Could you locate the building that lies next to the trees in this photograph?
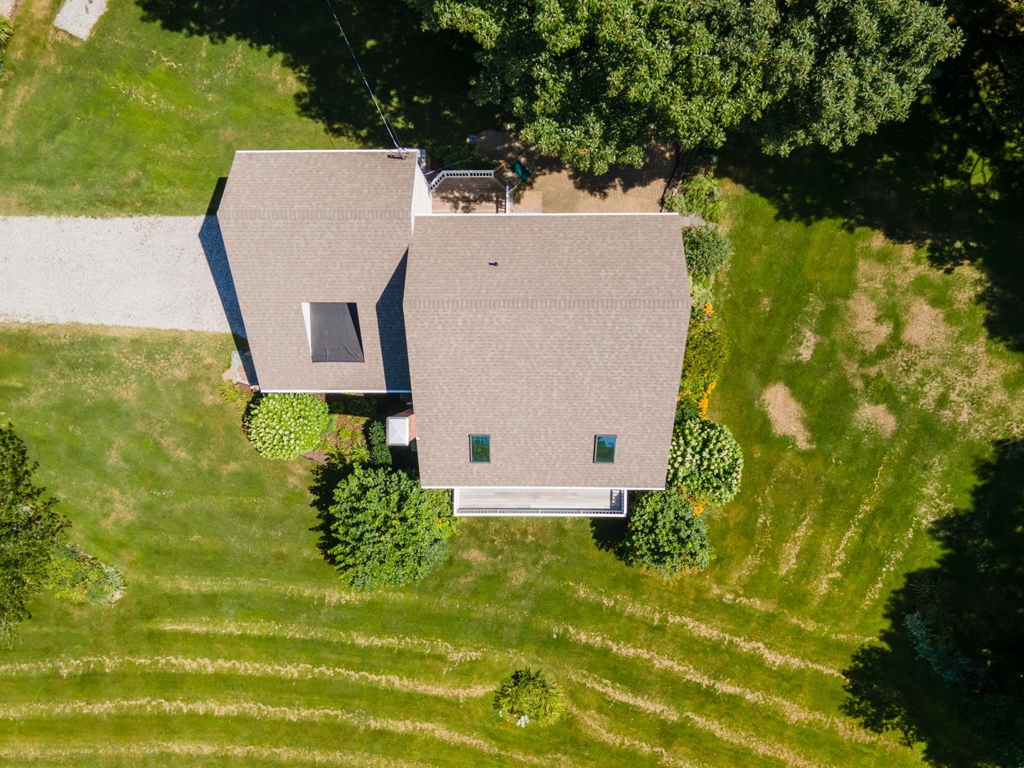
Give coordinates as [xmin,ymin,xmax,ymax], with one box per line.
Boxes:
[217,148,691,492]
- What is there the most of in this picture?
grass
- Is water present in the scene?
No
